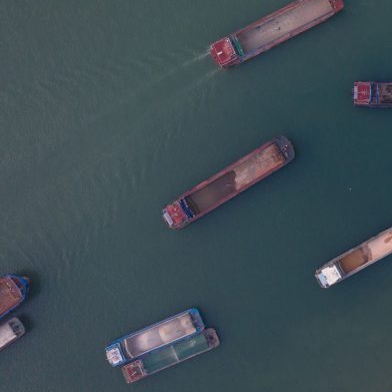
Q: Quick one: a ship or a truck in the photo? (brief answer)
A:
ship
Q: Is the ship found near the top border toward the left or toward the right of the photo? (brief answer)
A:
right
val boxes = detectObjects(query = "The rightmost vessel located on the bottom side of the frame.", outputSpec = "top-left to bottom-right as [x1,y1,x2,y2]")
[315,228,392,290]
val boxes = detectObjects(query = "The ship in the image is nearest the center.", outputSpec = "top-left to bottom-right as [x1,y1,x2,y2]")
[165,140,296,230]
